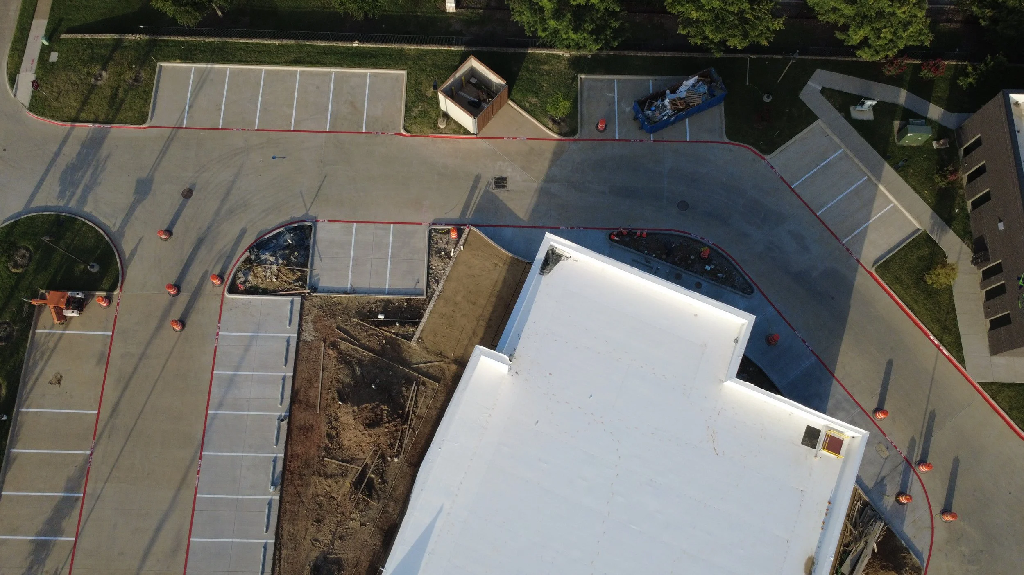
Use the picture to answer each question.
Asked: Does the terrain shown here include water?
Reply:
No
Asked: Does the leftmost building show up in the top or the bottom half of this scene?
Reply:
bottom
